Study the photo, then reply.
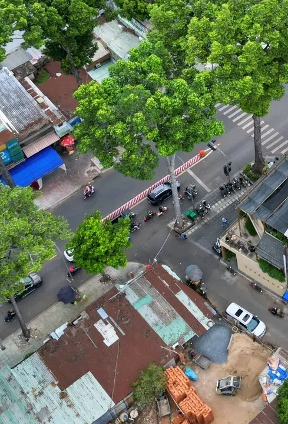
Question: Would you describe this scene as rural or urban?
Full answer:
This place is urban.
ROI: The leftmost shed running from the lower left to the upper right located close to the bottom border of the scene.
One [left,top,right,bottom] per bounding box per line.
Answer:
[0,264,217,424]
